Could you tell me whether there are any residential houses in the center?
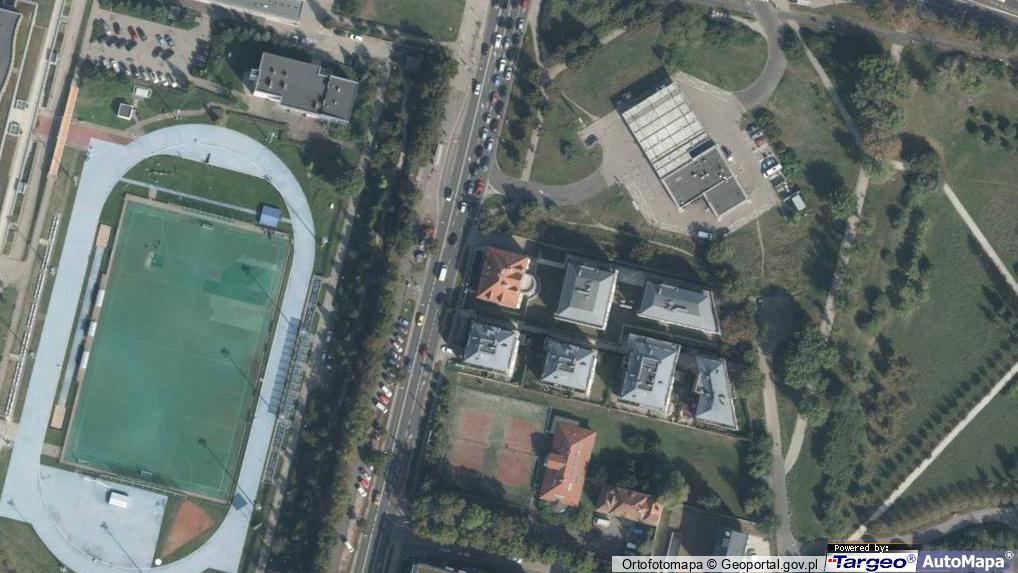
Yes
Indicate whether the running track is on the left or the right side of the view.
left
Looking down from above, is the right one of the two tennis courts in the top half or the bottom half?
bottom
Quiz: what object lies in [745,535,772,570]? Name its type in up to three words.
building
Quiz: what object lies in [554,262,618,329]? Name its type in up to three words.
house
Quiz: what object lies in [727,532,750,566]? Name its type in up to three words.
shed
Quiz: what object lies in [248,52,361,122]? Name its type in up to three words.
building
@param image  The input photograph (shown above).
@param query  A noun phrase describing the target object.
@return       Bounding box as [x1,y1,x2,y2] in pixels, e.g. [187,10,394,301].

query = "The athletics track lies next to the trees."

[0,123,315,573]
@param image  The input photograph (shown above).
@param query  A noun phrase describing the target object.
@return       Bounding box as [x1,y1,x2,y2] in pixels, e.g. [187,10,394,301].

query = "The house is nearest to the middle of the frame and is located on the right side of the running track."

[477,248,549,310]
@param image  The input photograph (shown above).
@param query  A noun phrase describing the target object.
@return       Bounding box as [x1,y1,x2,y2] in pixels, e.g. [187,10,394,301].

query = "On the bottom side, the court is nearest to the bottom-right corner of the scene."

[497,418,537,483]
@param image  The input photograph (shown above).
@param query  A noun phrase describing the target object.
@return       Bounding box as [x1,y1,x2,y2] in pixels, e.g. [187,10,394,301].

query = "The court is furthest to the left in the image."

[451,410,491,470]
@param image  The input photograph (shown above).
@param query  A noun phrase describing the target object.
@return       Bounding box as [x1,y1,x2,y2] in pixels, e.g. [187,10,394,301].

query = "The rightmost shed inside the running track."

[260,206,281,228]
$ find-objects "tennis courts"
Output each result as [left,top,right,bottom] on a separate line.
[451,410,491,470]
[497,418,537,483]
